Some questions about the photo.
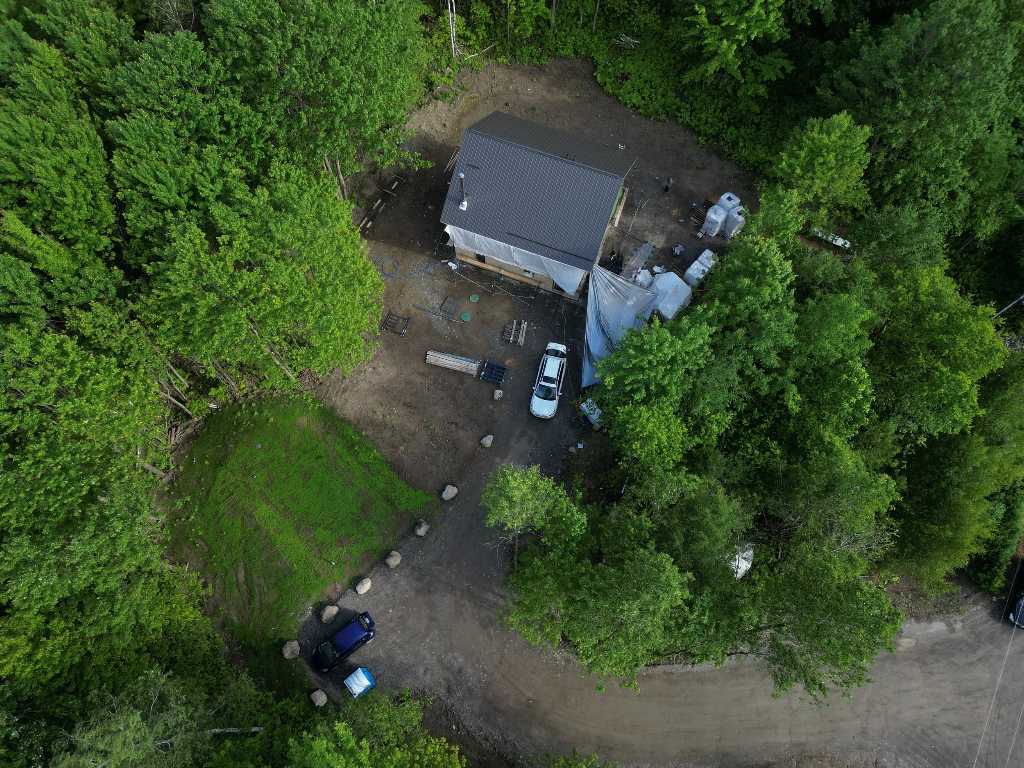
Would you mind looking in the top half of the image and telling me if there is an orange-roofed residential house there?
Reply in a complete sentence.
No, no orange-roofed residential house can be made out in the top half of the image.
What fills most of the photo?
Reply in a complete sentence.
The bulk of the photo consists of trees.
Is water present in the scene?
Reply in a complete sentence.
No, water can't be seen anywhere here.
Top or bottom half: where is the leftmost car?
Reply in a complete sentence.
The leftmost car sits in the bottom half of the picture.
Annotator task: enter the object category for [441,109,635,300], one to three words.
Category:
house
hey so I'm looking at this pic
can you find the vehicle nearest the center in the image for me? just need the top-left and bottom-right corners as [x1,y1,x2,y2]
[532,342,569,421]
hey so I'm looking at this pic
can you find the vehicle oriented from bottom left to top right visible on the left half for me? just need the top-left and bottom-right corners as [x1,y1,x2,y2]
[311,618,383,675]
